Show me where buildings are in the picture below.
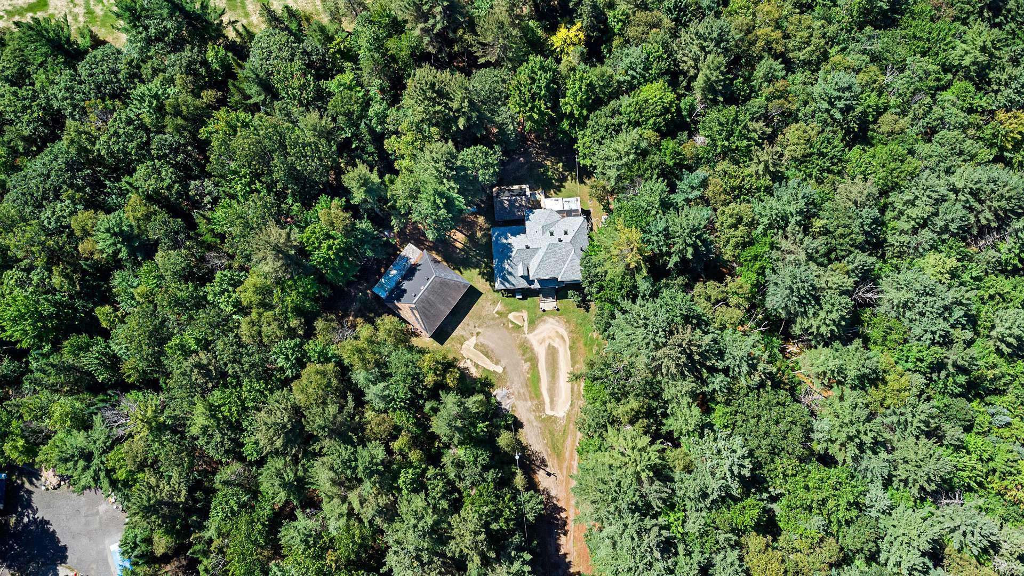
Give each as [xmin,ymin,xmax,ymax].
[491,207,589,303]
[385,250,471,338]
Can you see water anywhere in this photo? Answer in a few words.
No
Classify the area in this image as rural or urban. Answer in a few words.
rural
